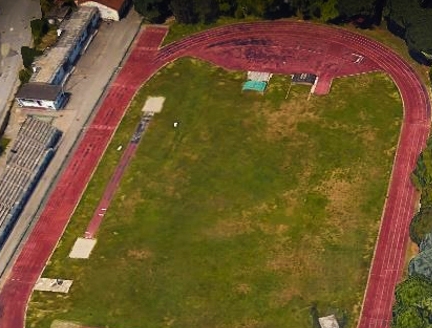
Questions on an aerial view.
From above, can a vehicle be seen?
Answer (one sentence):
No, I can see no vehicle in this picture.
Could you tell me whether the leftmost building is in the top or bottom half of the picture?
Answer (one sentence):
Seen from above, the leftmost building lies in the top half of the view.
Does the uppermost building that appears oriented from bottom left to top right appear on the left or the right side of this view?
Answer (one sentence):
The uppermost building that appears oriented from bottom left to top right appears in the left half of the scene.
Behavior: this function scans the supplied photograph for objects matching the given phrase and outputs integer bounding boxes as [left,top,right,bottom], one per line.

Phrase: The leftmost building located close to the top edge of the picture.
[31,7,101,84]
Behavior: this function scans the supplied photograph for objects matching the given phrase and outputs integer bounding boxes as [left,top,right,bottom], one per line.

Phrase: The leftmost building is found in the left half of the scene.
[17,81,64,111]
